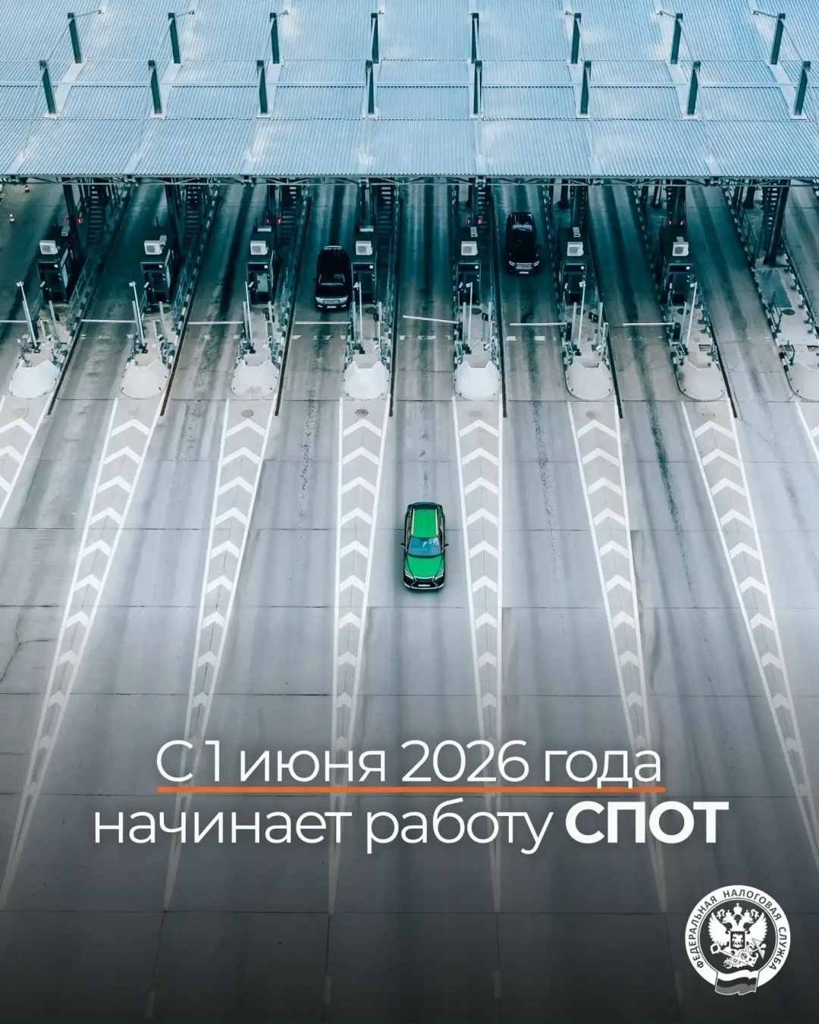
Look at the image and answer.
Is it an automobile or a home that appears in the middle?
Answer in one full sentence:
You can see an automobile in the middle.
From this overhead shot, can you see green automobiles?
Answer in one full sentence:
Yes, the frame does contain a green automobile.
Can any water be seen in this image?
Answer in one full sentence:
No, water can't be seen anywhere here.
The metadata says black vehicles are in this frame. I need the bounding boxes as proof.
[501,215,542,273]
[311,245,352,308]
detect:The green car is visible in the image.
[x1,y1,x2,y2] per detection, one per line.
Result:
[397,502,451,590]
